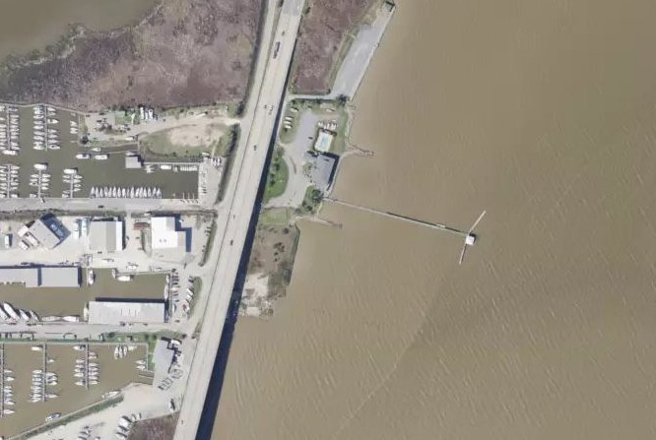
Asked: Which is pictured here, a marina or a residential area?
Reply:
marina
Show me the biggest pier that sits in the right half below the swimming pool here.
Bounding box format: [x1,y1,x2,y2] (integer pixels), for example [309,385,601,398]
[323,197,485,264]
